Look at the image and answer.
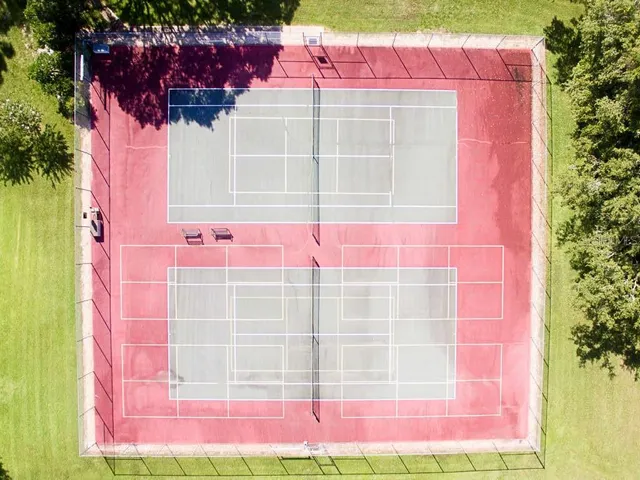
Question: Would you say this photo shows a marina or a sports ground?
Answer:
sports ground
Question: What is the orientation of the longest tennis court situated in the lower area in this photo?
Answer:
from side to side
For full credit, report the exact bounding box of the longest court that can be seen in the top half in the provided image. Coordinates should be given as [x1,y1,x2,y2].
[168,89,457,224]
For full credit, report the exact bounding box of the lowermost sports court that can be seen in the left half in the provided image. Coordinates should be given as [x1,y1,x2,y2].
[122,344,284,418]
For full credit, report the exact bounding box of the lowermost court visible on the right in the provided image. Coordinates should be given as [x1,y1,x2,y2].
[341,344,502,417]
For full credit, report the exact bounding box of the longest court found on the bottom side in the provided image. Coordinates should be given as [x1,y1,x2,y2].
[169,268,456,400]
